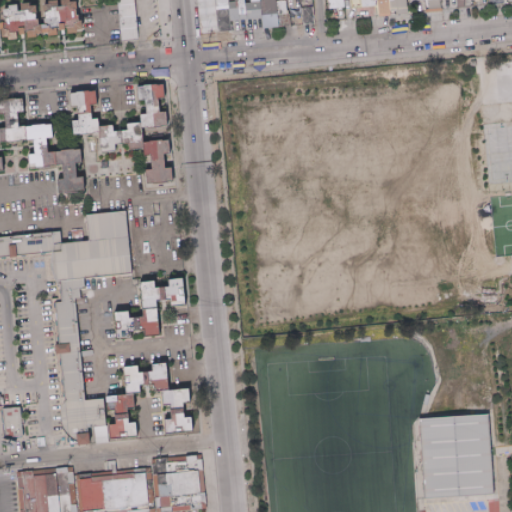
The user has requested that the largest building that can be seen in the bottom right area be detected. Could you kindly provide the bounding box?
[420,415,495,498]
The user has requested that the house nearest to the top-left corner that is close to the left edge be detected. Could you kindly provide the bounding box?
[0,2,38,40]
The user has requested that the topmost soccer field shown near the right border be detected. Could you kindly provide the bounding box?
[491,196,512,257]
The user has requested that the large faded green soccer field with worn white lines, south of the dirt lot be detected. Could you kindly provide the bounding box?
[256,338,435,512]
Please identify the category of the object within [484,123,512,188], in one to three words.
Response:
basketball court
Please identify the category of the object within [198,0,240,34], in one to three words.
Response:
building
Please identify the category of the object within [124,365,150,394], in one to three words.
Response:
house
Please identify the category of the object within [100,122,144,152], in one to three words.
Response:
house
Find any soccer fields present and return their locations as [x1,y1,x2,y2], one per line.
[491,196,512,257]
[256,338,435,512]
